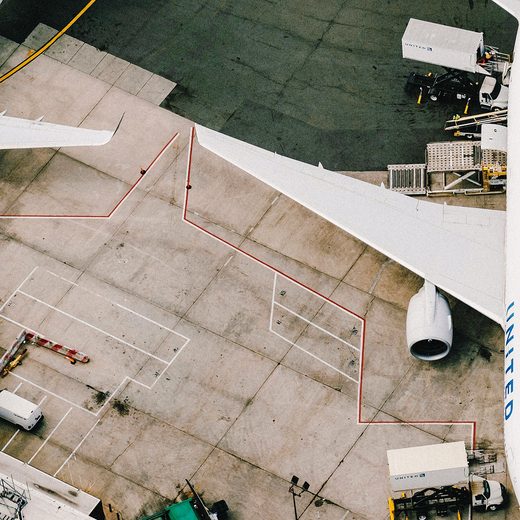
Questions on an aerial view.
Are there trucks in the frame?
Yes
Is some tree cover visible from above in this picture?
No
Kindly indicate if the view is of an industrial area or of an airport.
airport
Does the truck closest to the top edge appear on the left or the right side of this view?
right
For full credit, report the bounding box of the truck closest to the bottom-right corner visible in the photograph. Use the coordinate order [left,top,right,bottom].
[388,444,515,520]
